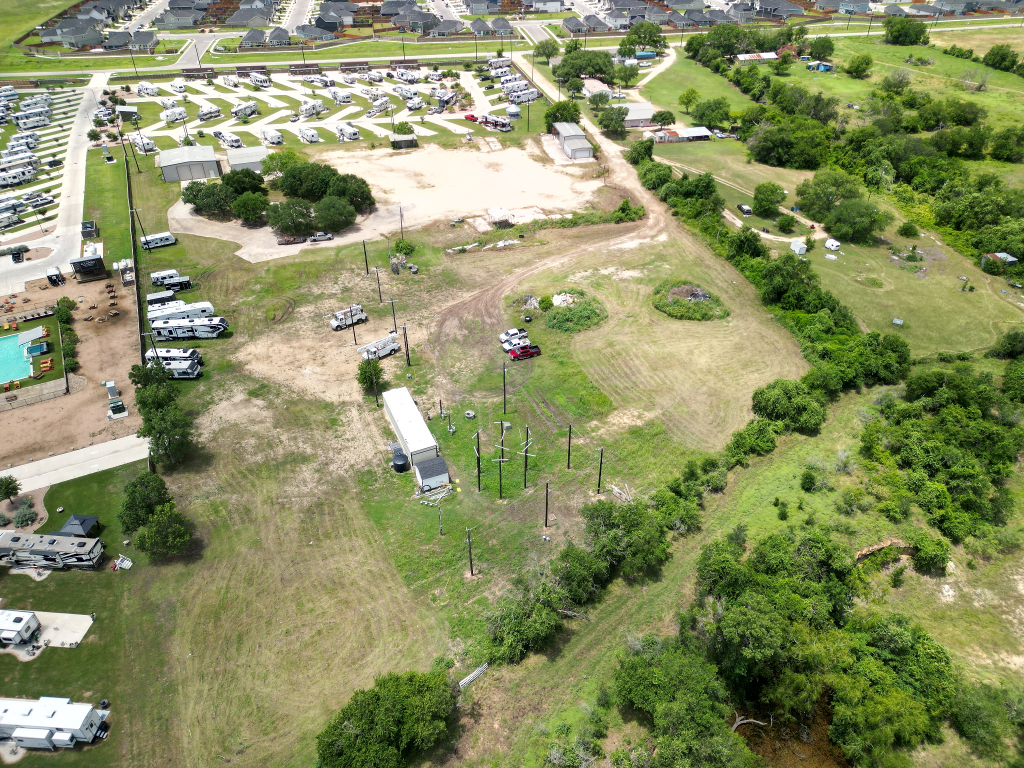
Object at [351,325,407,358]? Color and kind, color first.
white truck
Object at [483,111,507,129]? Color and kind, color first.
white camper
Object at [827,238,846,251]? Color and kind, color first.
white vehicle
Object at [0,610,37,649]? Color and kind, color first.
white trailer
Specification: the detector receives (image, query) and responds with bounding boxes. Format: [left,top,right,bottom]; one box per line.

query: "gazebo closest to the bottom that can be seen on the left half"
[60,516,105,535]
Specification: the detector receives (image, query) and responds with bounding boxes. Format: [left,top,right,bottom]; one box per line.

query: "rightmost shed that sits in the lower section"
[418,452,455,489]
